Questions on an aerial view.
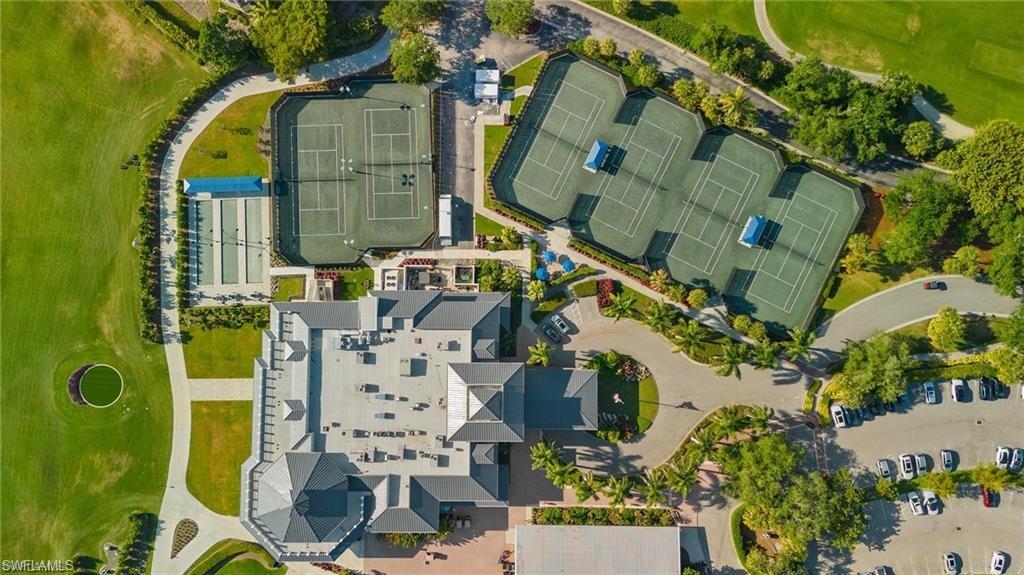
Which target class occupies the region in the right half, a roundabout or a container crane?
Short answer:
roundabout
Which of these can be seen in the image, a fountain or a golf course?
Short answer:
golf course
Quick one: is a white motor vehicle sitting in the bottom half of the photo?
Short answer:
Yes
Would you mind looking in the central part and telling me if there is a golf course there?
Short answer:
No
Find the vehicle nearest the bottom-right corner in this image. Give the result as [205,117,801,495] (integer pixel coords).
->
[988,551,1005,574]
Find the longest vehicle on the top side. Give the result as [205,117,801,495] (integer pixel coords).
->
[439,195,452,248]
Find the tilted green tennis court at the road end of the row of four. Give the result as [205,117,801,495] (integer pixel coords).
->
[726,168,860,334]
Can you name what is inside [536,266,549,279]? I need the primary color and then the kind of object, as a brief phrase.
blue umbrella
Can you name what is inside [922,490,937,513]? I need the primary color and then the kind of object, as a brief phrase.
white car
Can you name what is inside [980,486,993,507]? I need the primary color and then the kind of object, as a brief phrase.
red vehicle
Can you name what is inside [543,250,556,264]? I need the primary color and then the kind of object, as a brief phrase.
blue umbrella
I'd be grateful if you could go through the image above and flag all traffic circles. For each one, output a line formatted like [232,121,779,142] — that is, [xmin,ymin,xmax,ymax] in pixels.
[541,298,820,479]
